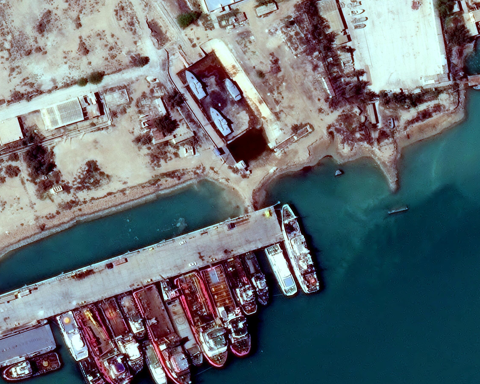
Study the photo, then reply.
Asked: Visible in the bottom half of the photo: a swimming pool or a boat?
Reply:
boat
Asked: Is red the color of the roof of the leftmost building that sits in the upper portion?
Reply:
No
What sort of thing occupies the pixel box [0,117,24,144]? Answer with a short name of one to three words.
building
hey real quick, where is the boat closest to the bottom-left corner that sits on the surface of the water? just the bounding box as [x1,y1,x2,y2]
[4,353,60,380]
